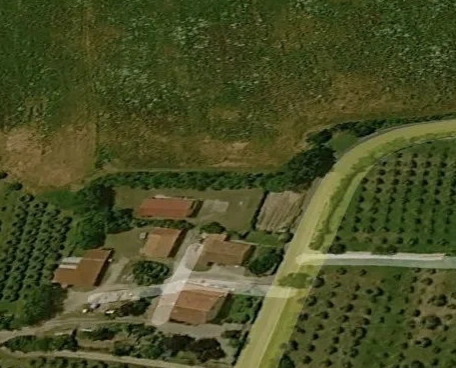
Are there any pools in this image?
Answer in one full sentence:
No, there is no pool in the image.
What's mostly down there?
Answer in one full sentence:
The bulk of the photo consists of grass.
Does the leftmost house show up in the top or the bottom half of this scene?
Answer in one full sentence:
The leftmost house sits in the bottom half of the picture.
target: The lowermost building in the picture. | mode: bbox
[168,288,225,328]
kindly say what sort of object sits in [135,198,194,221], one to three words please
house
